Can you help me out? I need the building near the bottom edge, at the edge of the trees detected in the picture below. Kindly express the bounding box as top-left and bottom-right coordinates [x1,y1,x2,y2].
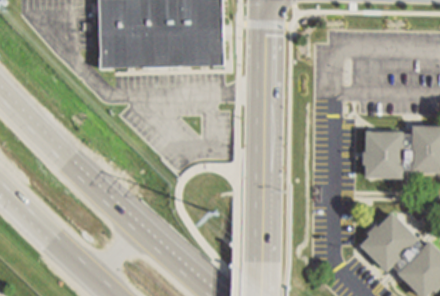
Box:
[362,212,440,296]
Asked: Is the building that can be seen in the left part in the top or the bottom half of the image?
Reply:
top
